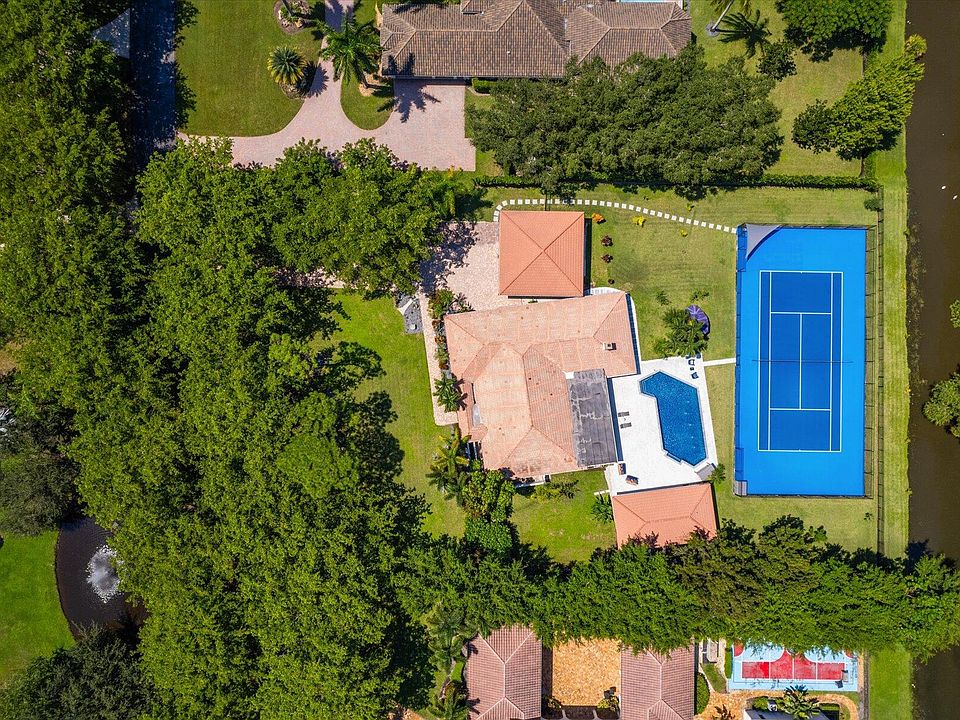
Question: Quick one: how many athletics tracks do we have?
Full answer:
No athletics tracks are visible.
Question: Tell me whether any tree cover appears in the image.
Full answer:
Yes, there is tree cover in the image.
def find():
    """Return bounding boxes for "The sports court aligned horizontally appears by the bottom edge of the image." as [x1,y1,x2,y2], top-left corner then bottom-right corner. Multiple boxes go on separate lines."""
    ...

[728,629,858,690]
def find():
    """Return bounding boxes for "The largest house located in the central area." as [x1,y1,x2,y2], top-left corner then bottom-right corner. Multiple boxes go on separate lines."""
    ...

[443,292,637,480]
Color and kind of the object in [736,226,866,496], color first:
blue tennis court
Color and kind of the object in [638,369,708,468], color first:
blue swimming pool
